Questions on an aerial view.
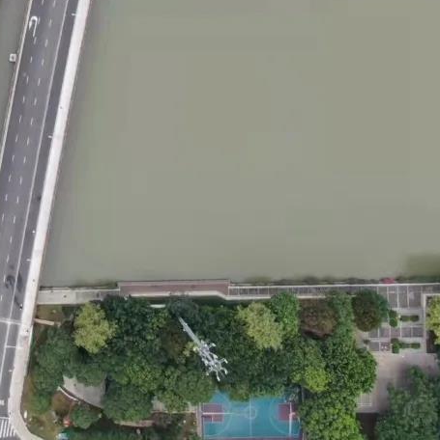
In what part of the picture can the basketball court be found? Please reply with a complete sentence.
You can find the basketball court in the bottom area of the picture.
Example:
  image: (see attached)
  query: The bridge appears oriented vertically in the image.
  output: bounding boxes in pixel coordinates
[0,0,91,325]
